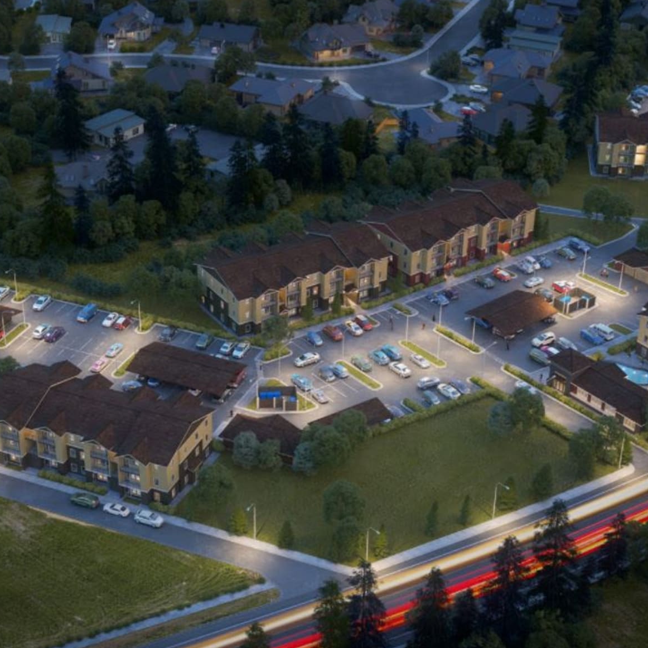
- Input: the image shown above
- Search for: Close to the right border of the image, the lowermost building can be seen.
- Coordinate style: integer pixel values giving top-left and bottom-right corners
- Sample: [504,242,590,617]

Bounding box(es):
[530,341,648,435]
